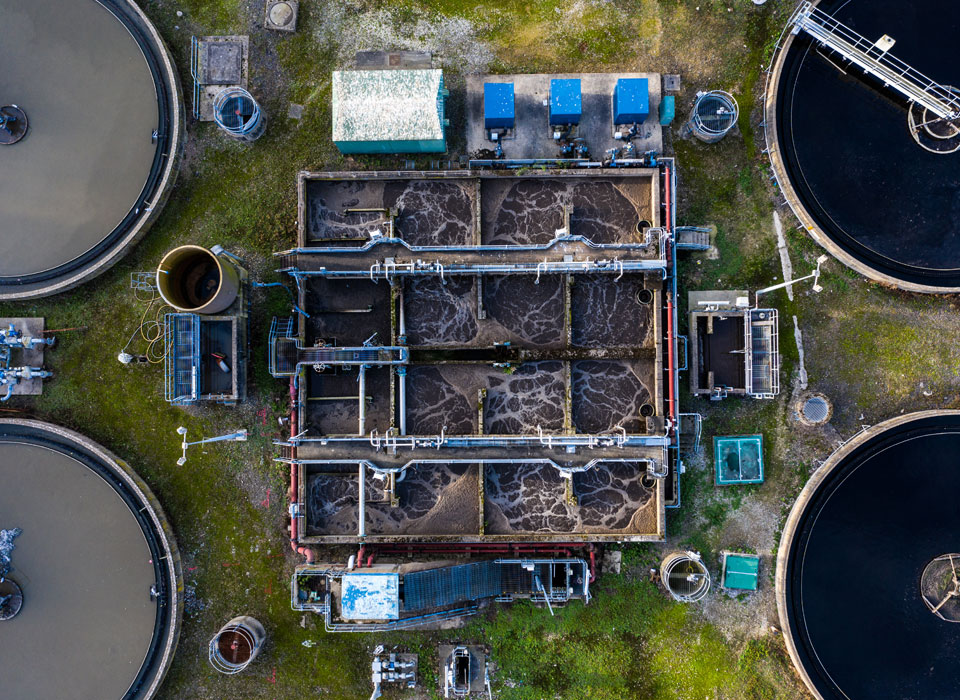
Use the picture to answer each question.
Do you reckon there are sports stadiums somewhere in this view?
No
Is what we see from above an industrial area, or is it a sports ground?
industrial area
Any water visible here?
Yes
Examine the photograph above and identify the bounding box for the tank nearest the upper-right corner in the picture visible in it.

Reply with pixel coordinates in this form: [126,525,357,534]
[751,0,960,296]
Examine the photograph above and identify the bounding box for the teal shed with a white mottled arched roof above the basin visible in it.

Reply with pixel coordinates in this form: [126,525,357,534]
[331,69,451,153]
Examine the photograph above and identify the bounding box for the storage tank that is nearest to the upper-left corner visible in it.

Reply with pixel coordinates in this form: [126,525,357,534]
[0,0,187,302]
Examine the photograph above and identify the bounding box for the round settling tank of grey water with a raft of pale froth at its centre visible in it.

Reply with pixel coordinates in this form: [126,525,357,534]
[0,416,188,700]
